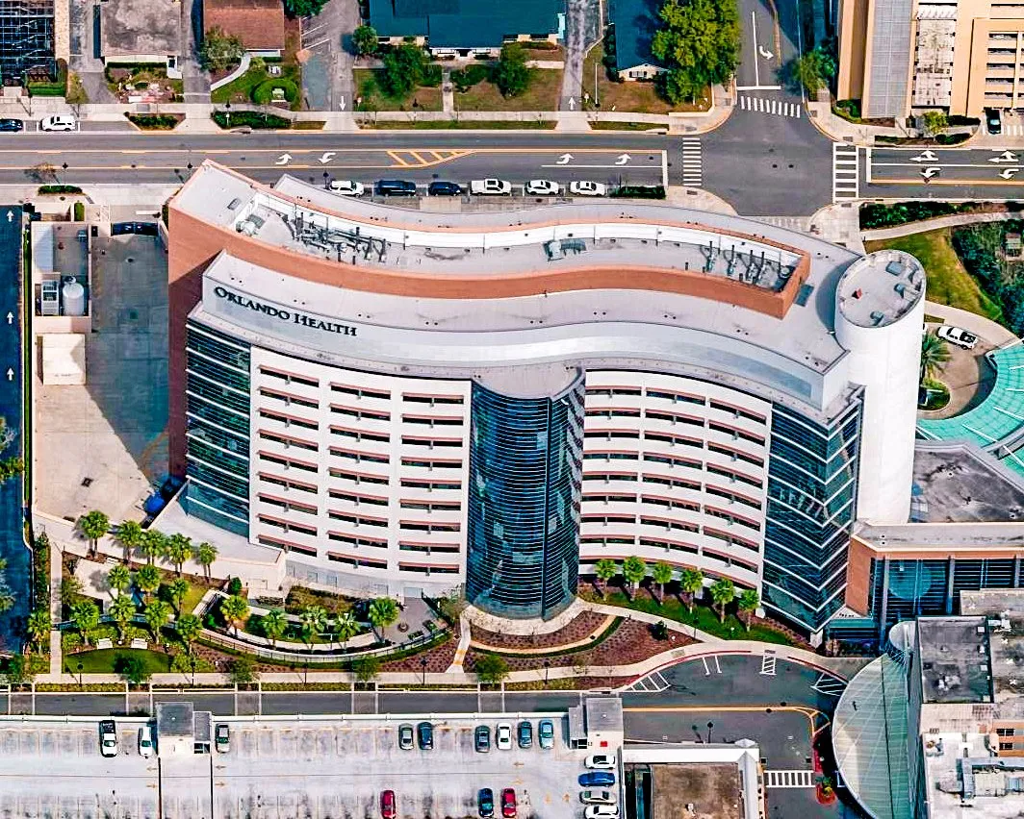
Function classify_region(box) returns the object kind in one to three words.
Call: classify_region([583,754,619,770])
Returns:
car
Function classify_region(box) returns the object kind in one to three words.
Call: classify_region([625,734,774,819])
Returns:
building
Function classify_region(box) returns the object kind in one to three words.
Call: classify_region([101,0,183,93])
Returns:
building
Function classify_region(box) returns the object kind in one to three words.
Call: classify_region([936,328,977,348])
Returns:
vehicle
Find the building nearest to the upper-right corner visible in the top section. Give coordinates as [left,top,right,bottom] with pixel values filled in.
[851,0,1024,117]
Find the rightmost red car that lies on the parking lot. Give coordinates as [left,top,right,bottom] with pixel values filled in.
[501,789,517,818]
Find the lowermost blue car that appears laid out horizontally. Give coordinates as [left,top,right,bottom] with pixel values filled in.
[578,770,616,788]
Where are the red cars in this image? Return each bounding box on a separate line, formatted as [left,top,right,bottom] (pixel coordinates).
[380,792,396,819]
[501,789,517,818]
